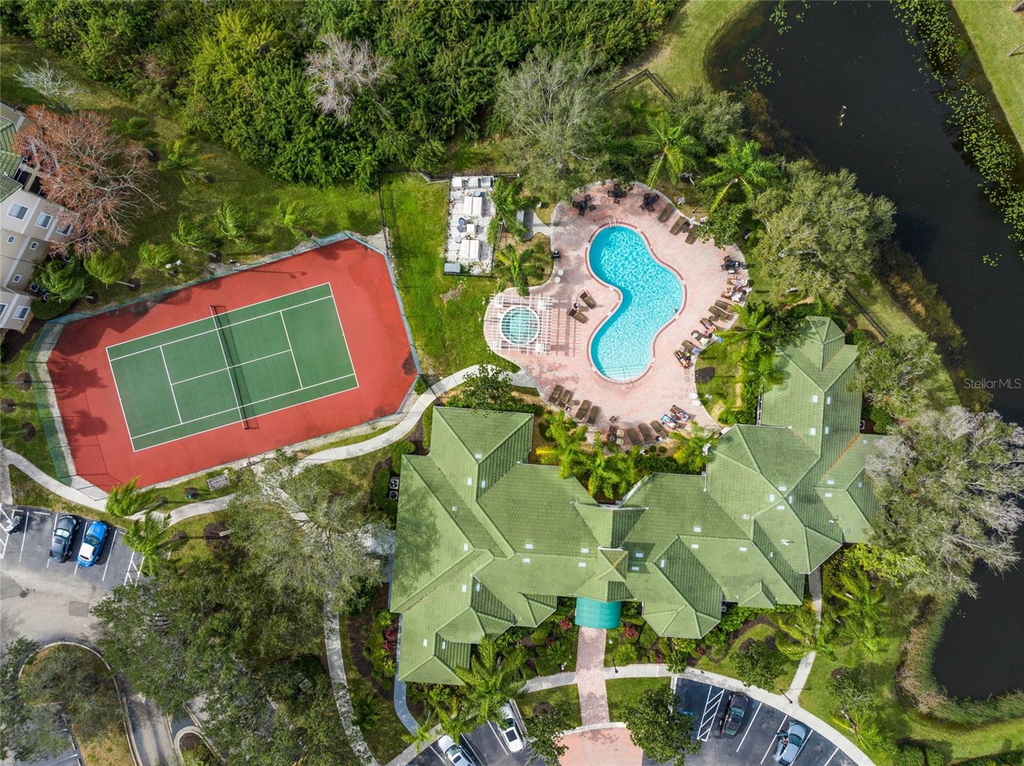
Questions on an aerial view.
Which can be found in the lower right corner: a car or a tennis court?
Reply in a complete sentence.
The one visible in the lower right corner is a car.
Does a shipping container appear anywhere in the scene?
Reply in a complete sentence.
No, no shipping container can be seen from above.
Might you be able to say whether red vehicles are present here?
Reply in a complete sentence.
No, no red vehicle can be seen from above.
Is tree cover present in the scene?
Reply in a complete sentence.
Yes, tree cover shows up in the scene.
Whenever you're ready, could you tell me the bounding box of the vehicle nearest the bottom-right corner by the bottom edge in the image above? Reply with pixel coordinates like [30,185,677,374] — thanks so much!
[776,722,808,766]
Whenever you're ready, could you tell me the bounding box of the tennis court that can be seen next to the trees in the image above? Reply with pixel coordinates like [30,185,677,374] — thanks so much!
[48,239,418,495]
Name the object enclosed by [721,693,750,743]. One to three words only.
car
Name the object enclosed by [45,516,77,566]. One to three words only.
car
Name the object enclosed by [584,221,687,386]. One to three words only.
swimming pool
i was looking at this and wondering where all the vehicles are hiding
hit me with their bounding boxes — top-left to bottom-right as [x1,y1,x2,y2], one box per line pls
[45,516,77,566]
[776,722,808,766]
[435,735,472,766]
[495,705,526,754]
[721,693,750,743]
[73,521,106,570]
